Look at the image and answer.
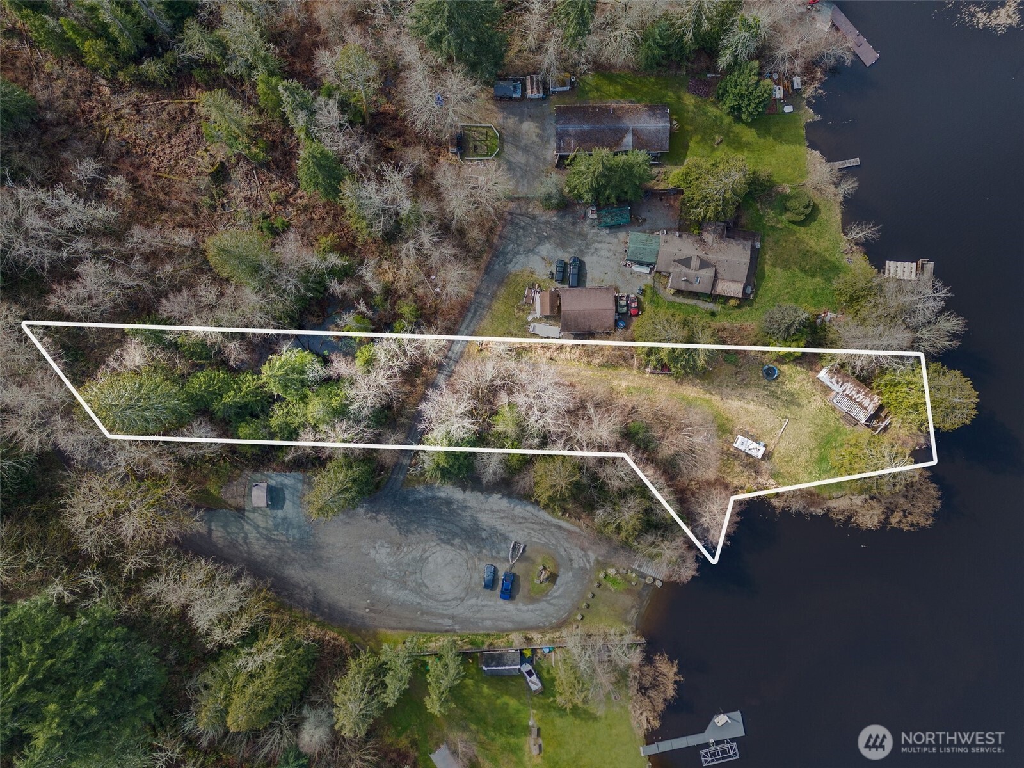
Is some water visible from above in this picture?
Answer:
Yes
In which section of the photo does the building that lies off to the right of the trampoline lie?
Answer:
right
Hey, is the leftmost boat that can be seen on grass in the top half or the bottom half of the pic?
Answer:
bottom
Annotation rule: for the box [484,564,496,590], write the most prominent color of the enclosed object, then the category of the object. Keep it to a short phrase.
blue vehicle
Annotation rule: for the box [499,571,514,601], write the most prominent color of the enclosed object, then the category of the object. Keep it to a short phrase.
blue vehicle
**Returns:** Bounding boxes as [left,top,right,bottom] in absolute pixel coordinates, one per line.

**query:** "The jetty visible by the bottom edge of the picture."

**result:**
[640,708,745,756]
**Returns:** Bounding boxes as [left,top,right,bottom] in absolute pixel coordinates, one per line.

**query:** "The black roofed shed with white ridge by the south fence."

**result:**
[479,647,520,676]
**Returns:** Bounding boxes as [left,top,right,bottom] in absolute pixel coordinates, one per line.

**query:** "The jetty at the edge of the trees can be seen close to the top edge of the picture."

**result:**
[830,5,880,67]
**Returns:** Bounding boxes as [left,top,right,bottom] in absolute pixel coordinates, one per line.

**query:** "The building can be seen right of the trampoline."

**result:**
[817,362,891,432]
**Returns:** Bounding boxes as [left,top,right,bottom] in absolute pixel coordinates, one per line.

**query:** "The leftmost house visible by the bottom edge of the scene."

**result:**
[429,739,467,768]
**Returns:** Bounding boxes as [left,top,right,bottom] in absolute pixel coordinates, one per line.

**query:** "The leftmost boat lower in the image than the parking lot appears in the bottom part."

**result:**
[524,665,545,695]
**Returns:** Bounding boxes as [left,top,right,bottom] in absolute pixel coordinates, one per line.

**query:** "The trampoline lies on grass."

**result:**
[761,364,778,380]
